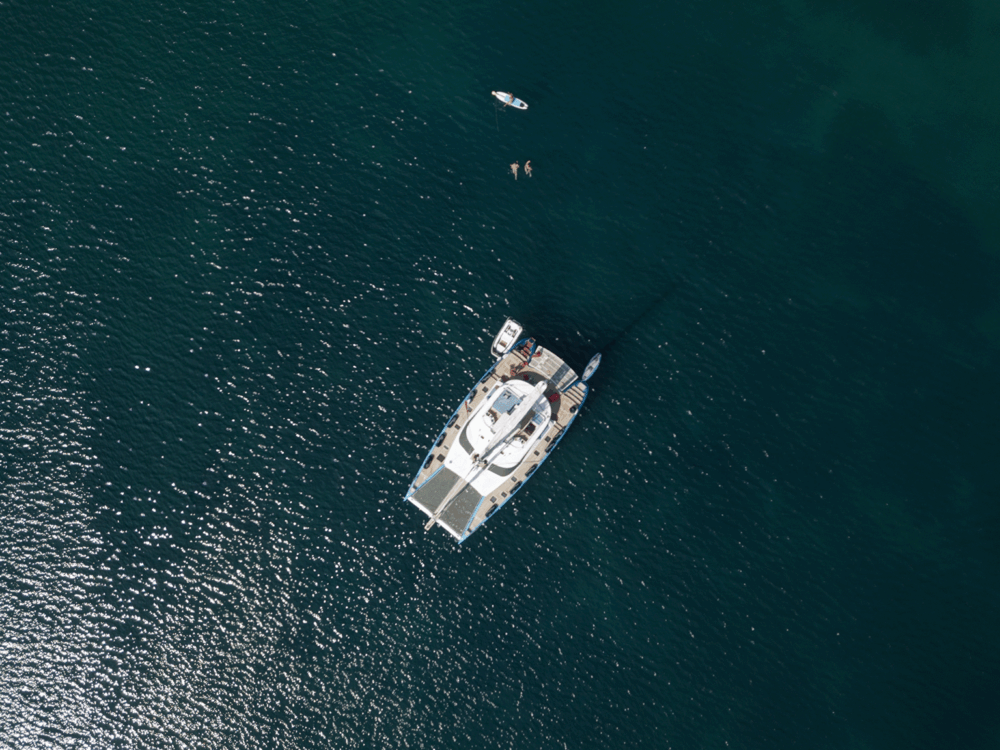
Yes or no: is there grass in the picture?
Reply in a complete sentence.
No, there's no grass in this view.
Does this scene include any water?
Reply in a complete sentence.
Yes, there's water in this view.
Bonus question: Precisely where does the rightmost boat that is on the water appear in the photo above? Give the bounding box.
[581,353,601,383]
